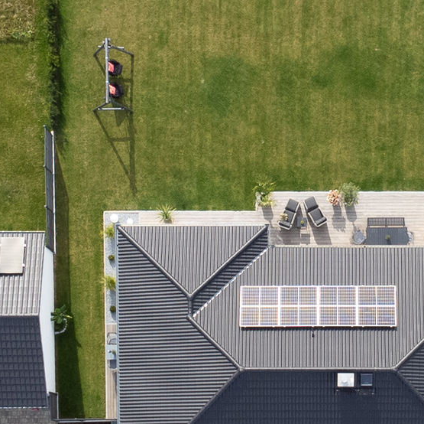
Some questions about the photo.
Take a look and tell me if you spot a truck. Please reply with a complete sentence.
No, the scene contains no truck.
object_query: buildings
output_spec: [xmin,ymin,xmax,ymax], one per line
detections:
[115,222,424,424]
[0,229,55,410]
